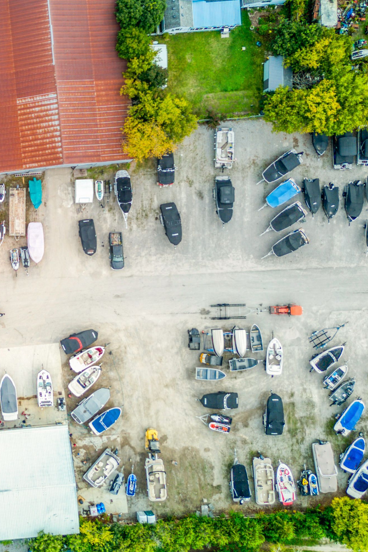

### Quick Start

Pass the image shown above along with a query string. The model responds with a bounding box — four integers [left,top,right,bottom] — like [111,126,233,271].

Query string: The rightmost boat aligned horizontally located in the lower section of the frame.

[225,357,259,371]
